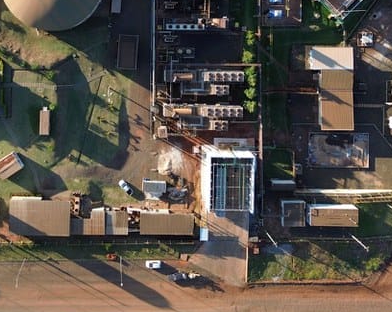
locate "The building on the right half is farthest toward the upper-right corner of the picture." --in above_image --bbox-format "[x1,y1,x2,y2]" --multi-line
[305,46,355,70]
